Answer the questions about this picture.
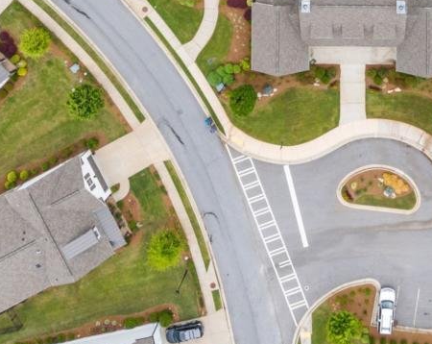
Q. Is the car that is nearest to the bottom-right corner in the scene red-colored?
No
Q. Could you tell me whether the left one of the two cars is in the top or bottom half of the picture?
bottom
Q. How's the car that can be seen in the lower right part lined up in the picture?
from top to bottom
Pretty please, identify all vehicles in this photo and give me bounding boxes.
[377,291,397,335]
[165,322,206,344]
